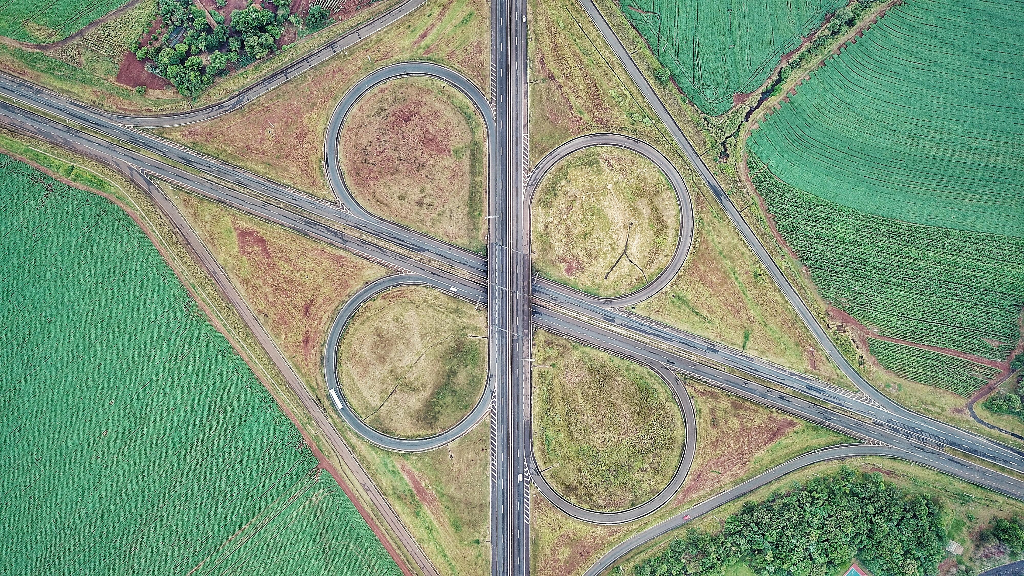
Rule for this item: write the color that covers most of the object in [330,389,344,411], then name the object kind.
white vehicle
